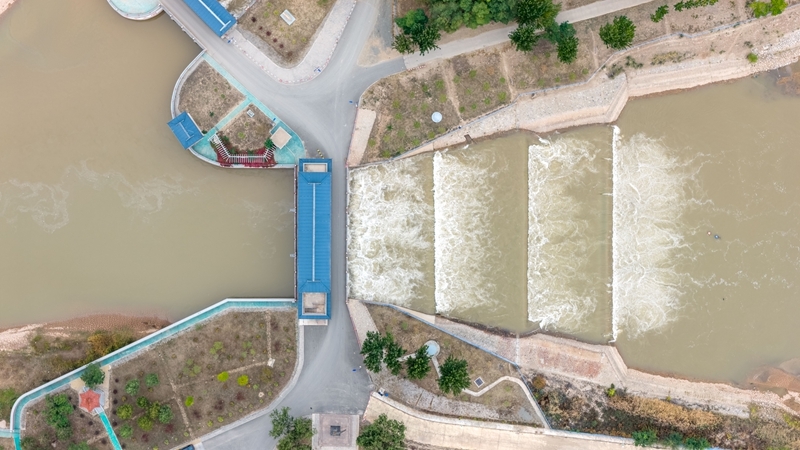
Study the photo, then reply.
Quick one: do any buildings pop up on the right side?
No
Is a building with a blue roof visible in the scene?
Yes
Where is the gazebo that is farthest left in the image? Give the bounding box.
[80,385,104,413]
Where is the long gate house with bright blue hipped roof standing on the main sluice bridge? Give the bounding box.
[296,159,332,326]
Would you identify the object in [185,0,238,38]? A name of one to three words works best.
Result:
building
